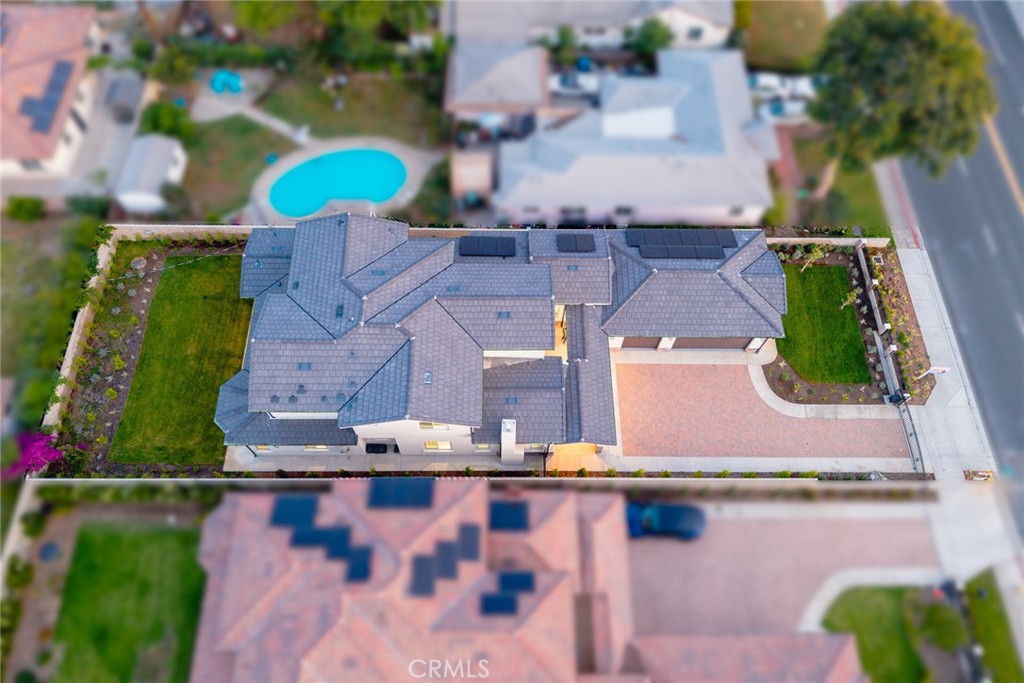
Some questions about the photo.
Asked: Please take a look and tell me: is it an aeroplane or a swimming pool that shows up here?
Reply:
swimming pool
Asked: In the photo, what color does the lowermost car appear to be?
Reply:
blue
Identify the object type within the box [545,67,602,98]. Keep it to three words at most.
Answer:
car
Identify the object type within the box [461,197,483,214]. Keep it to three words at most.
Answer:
umbrella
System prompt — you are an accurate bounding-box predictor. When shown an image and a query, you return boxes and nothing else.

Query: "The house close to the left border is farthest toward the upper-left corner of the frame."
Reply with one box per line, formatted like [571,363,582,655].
[0,0,122,186]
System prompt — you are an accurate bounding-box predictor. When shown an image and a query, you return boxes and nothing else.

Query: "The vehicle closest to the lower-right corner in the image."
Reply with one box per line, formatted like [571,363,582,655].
[625,498,708,542]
